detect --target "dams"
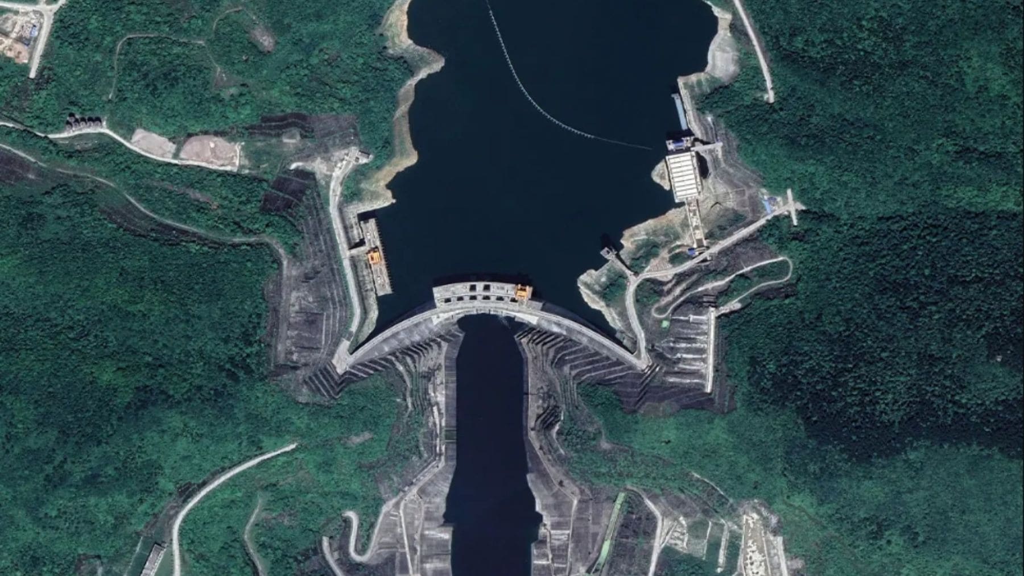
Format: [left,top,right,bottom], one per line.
[343,282,645,373]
